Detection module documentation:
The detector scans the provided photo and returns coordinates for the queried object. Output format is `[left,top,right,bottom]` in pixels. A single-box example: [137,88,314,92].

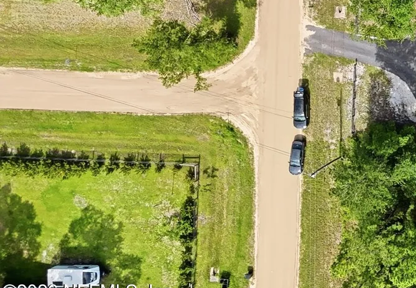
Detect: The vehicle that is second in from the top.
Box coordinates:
[287,139,306,174]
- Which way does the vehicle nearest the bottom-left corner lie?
horizontally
